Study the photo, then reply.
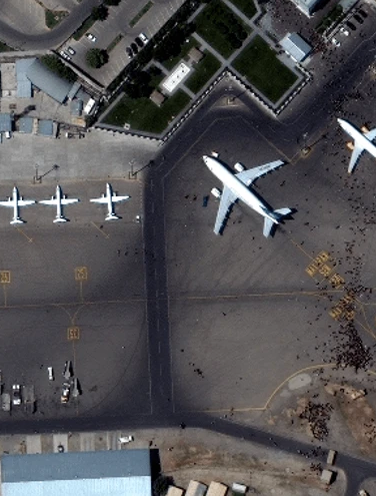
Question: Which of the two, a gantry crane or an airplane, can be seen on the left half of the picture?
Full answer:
It is an airplane that can be seen on the left half of the picture.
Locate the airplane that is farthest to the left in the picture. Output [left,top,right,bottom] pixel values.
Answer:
[0,187,35,221]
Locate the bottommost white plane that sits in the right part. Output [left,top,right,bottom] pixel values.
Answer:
[203,155,293,237]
